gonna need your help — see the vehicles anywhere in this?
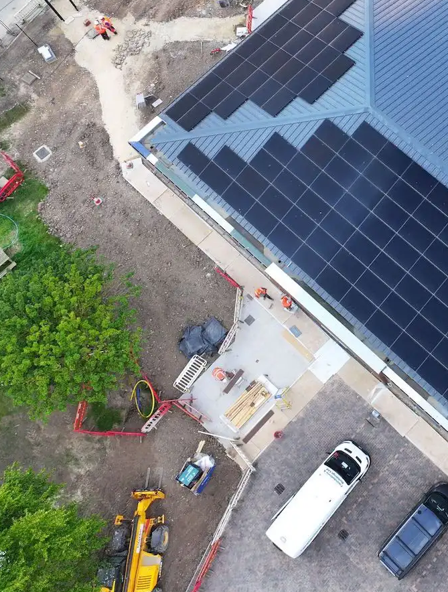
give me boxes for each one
[378,480,448,579]
[88,468,167,592]
[267,439,375,560]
